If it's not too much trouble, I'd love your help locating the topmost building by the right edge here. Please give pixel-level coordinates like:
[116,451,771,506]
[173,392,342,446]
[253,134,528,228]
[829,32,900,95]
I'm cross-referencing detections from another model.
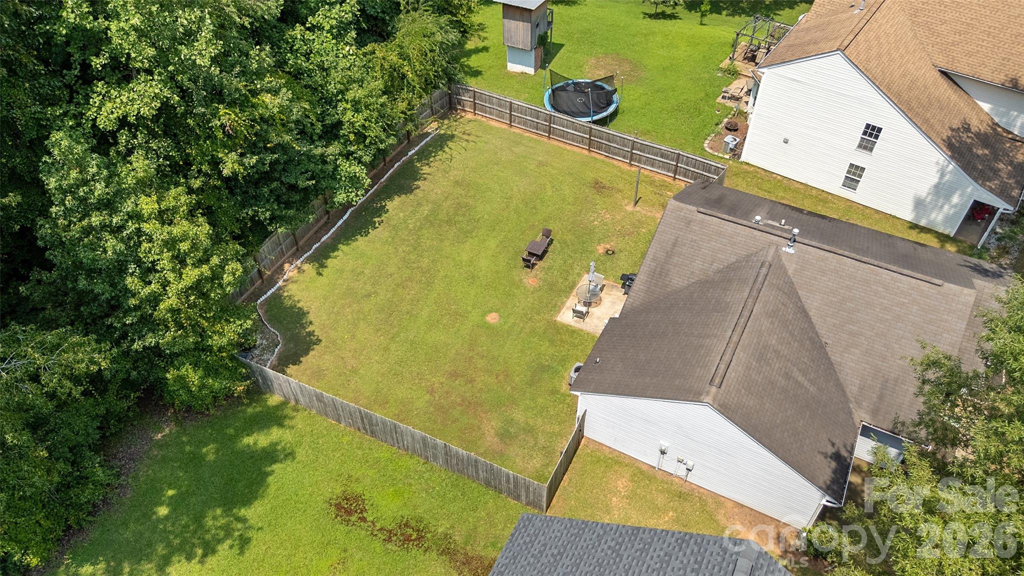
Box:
[741,0,1024,250]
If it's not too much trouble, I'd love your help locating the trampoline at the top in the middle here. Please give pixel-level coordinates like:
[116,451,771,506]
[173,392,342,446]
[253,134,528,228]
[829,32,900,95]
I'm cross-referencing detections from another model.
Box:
[541,66,628,129]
